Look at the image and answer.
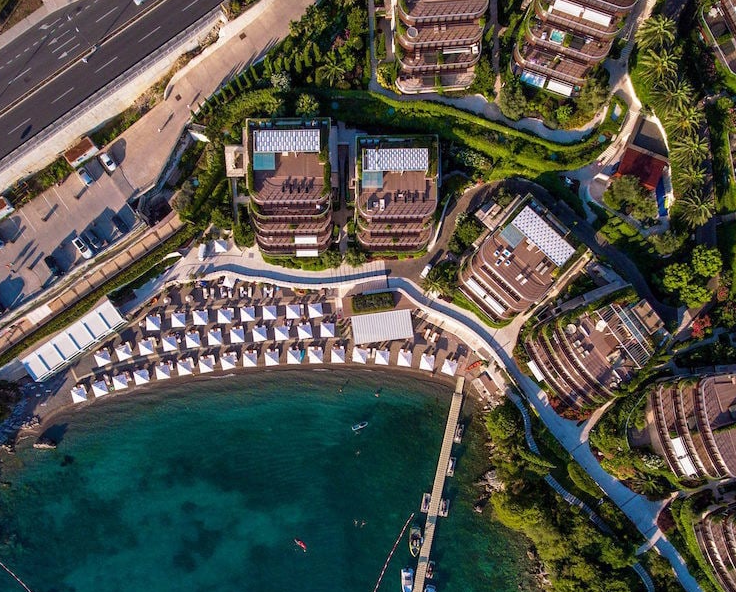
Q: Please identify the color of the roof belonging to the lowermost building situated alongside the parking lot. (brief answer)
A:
white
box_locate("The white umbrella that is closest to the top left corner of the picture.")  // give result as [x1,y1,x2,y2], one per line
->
[213,239,228,254]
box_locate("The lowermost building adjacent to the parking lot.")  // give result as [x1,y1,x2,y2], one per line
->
[21,299,129,382]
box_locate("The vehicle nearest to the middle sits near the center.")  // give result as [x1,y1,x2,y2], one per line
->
[417,260,435,281]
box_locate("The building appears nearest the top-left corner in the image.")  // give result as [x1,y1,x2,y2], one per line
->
[63,137,100,167]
